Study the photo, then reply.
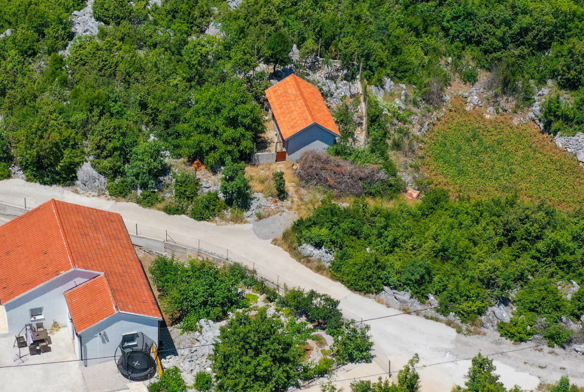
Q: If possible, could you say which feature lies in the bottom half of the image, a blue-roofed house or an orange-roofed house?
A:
orange-roofed house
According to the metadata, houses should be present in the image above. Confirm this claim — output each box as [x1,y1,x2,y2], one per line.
[0,200,164,366]
[260,73,342,163]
